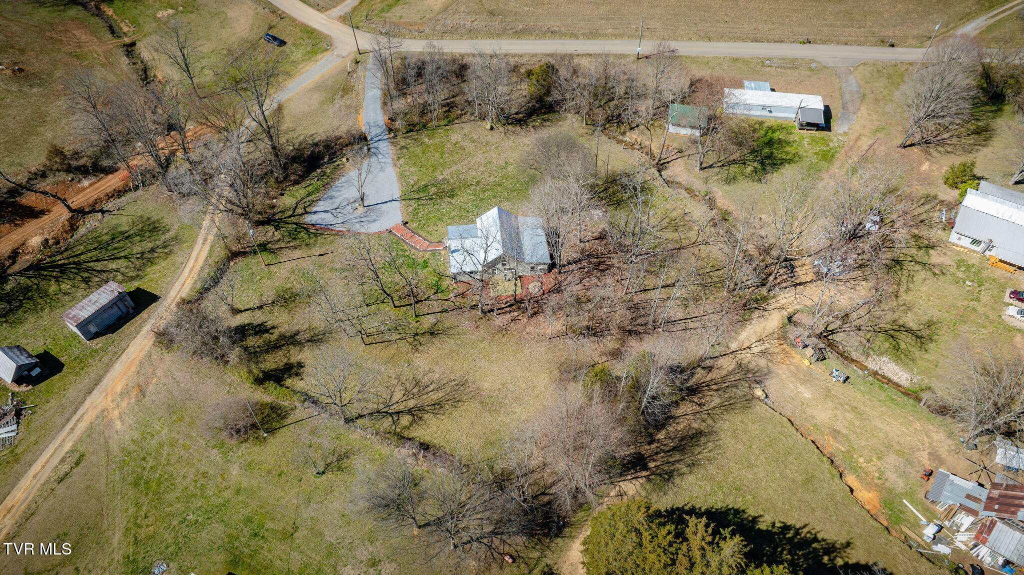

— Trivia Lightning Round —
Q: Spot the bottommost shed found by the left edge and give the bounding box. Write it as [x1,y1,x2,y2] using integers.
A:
[0,345,46,391]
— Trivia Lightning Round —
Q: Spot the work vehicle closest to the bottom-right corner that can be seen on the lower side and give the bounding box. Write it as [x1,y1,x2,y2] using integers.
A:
[918,467,936,481]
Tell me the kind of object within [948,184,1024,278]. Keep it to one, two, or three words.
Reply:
house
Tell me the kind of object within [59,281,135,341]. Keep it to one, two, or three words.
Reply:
barn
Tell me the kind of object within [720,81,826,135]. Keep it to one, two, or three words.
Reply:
house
